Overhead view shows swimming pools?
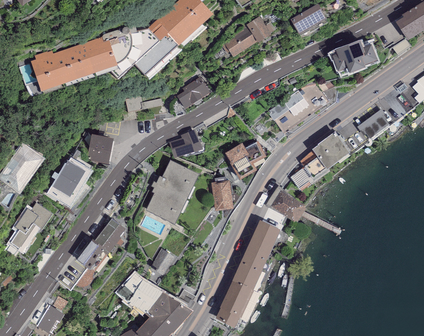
Yes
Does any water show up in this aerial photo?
Yes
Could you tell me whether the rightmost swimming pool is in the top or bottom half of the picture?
bottom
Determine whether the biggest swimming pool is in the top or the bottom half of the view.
top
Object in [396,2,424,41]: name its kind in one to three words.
house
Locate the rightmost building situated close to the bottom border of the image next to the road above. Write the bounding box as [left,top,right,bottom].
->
[217,220,280,328]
